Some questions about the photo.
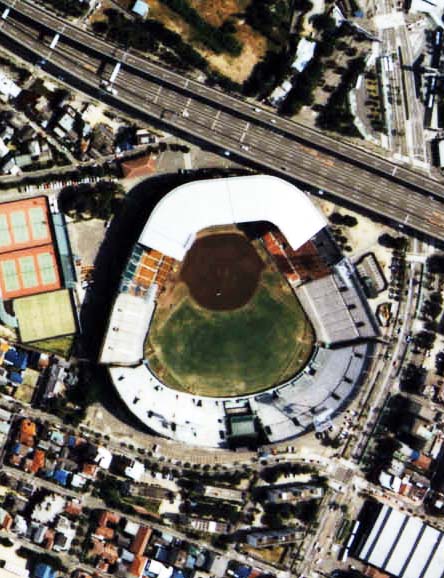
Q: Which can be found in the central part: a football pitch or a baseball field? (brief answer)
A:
baseball field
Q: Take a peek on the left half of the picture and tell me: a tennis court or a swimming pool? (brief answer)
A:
tennis court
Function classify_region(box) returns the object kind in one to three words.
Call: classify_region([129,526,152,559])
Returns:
house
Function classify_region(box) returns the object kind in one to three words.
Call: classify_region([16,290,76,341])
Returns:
tennis court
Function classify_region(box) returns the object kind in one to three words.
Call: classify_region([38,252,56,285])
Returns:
tennis court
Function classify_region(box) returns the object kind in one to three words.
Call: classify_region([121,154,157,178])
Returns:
building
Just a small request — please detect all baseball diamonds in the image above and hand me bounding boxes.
[143,225,319,402]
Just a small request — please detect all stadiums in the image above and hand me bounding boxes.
[100,176,382,450]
